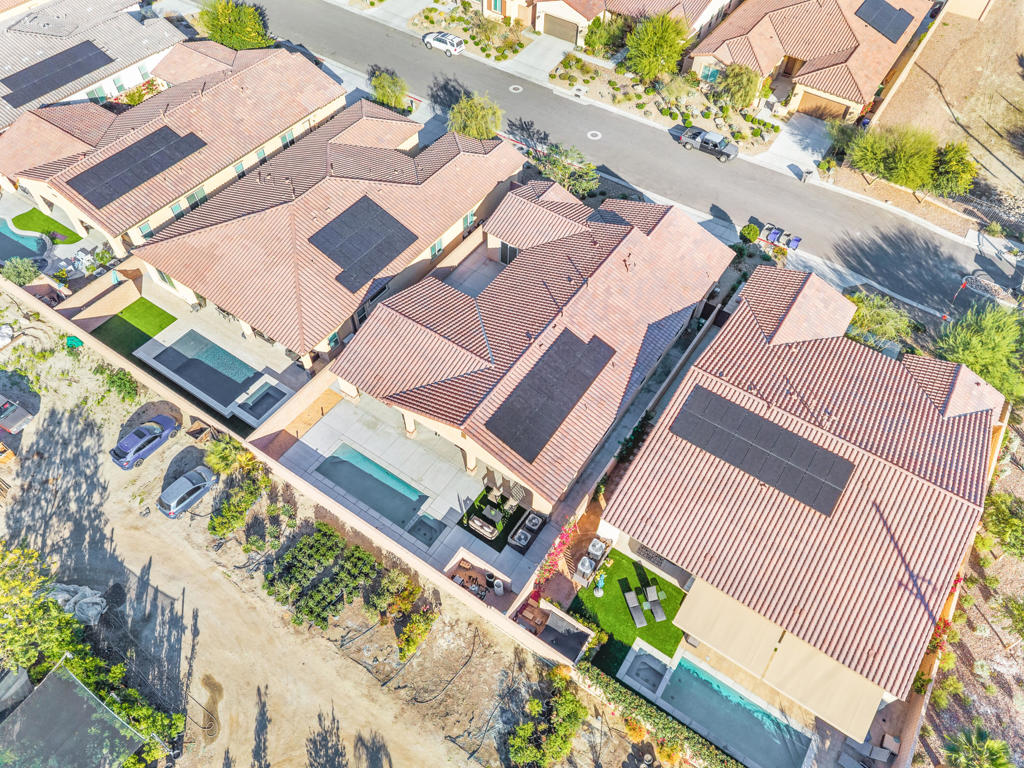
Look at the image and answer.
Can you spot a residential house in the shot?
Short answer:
Yes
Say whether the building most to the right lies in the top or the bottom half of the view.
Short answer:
top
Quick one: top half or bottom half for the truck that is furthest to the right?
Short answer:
top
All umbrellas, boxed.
[591,572,606,599]
[107,273,118,289]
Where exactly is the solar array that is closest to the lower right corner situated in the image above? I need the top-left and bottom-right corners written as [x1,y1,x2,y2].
[668,380,862,519]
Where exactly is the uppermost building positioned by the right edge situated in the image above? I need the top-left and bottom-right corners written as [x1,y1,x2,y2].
[948,0,1005,34]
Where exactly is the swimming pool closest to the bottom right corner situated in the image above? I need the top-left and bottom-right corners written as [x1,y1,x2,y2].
[655,646,822,768]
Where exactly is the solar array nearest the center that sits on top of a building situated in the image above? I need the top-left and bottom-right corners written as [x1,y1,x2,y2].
[478,325,619,461]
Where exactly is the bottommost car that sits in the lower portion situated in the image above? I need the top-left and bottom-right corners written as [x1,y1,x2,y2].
[148,460,226,524]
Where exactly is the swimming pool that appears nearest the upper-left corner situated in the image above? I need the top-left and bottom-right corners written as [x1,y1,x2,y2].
[0,213,53,265]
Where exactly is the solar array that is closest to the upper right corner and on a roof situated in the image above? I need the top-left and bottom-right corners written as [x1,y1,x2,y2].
[851,0,915,42]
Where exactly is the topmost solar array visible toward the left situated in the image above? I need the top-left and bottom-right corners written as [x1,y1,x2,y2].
[0,37,106,110]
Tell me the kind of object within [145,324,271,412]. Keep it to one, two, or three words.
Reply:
swimming pool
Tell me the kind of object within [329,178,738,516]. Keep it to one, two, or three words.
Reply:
house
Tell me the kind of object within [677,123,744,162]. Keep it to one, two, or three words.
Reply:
truck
